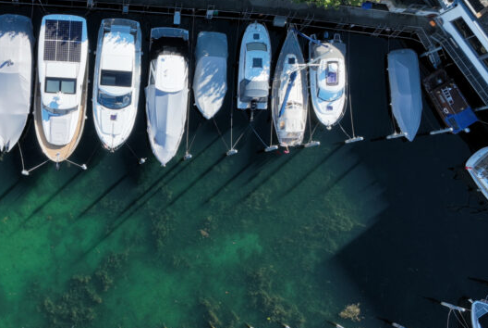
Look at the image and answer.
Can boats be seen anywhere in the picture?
Yes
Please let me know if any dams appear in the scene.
No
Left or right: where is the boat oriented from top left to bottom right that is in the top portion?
right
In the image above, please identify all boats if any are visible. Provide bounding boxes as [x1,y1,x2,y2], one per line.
[422,66,481,137]
[0,0,36,171]
[86,5,146,165]
[268,21,333,152]
[307,24,349,142]
[142,11,193,171]
[26,0,93,172]
[464,150,488,203]
[380,31,424,142]
[188,14,231,155]
[231,20,271,149]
